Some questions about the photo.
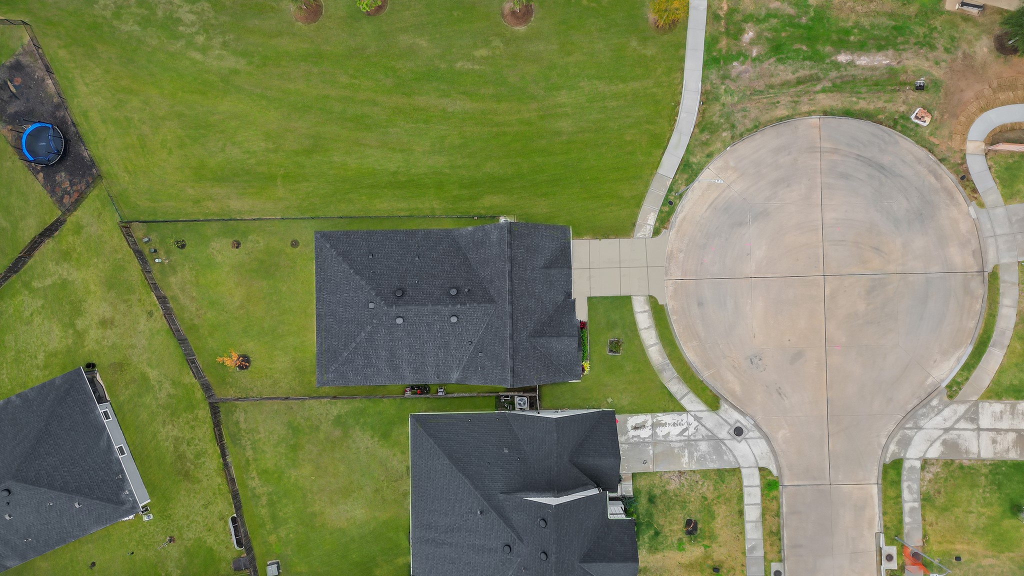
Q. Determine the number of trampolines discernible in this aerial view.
one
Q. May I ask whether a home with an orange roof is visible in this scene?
No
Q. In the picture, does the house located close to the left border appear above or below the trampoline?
below it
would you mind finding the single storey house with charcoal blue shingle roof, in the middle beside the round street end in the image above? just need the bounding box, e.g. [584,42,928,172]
[314,223,582,391]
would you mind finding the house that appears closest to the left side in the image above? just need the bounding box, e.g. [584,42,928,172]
[0,366,162,576]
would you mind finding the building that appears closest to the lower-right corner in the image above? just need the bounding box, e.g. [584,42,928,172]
[408,406,639,576]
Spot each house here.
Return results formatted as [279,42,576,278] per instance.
[408,406,639,576]
[0,366,162,576]
[314,223,582,391]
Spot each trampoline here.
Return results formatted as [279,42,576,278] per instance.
[6,117,71,168]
